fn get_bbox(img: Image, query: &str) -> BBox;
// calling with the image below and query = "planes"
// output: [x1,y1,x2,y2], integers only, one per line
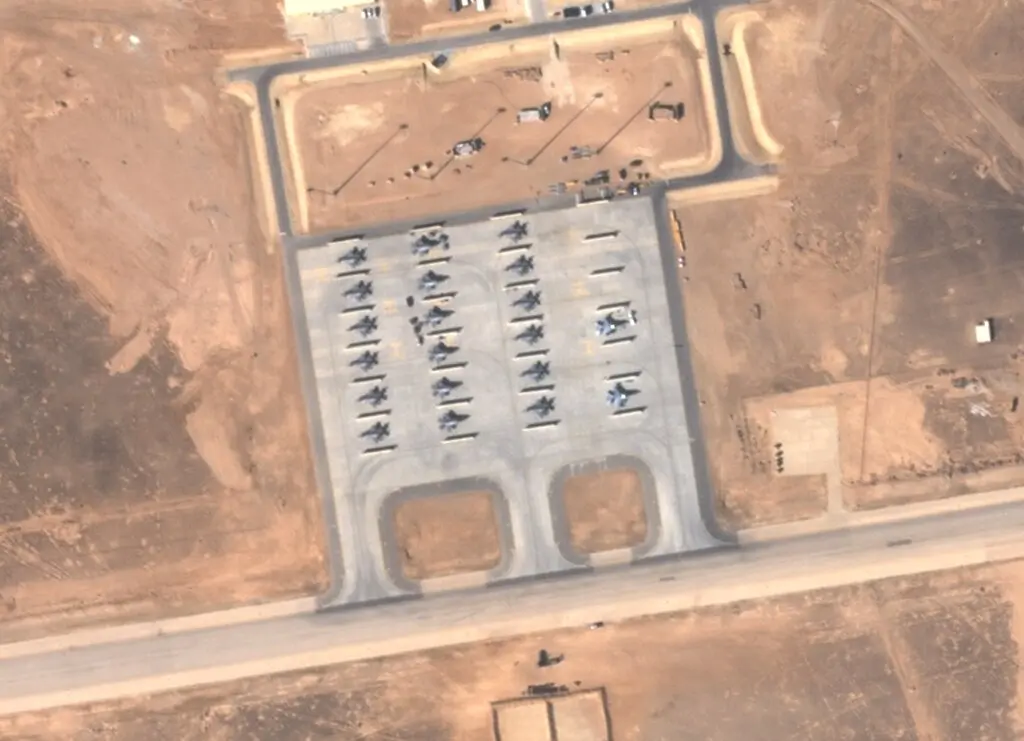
[498,223,524,242]
[433,379,459,398]
[419,274,444,292]
[342,282,368,301]
[504,258,530,277]
[357,389,382,407]
[412,237,437,256]
[596,318,624,338]
[429,345,455,363]
[348,317,372,335]
[514,328,539,346]
[440,413,466,431]
[351,353,375,371]
[360,424,386,443]
[338,249,363,267]
[608,388,637,408]
[511,294,535,312]
[519,364,545,382]
[523,400,549,419]
[426,308,451,327]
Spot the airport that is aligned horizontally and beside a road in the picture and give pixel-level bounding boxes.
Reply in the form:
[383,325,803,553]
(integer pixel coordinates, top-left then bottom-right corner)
[0,183,1024,715]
